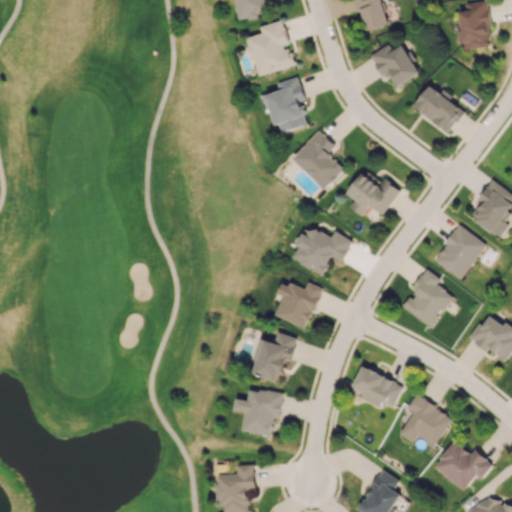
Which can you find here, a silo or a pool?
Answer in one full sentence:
Looking from above, you can make out a pool.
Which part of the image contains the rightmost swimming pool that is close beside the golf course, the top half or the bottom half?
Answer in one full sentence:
You can find the rightmost swimming pool that is close beside the golf course in the top half.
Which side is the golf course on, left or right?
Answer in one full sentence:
The golf course appears in the left half of the scene.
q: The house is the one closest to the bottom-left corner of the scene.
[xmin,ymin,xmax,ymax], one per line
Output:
[216,462,256,512]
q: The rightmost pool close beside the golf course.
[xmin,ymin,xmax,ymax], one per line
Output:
[274,154,322,201]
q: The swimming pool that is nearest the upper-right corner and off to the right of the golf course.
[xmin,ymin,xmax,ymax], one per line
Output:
[460,88,482,112]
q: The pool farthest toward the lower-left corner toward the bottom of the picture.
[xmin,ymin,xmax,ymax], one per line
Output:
[233,328,262,368]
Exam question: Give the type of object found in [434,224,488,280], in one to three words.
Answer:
house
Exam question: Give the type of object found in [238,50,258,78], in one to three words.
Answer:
swimming pool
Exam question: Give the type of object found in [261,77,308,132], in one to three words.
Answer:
house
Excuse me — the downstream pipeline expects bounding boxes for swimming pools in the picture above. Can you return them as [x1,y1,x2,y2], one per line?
[238,50,258,78]
[233,328,262,368]
[415,438,428,452]
[460,88,482,112]
[274,154,322,201]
